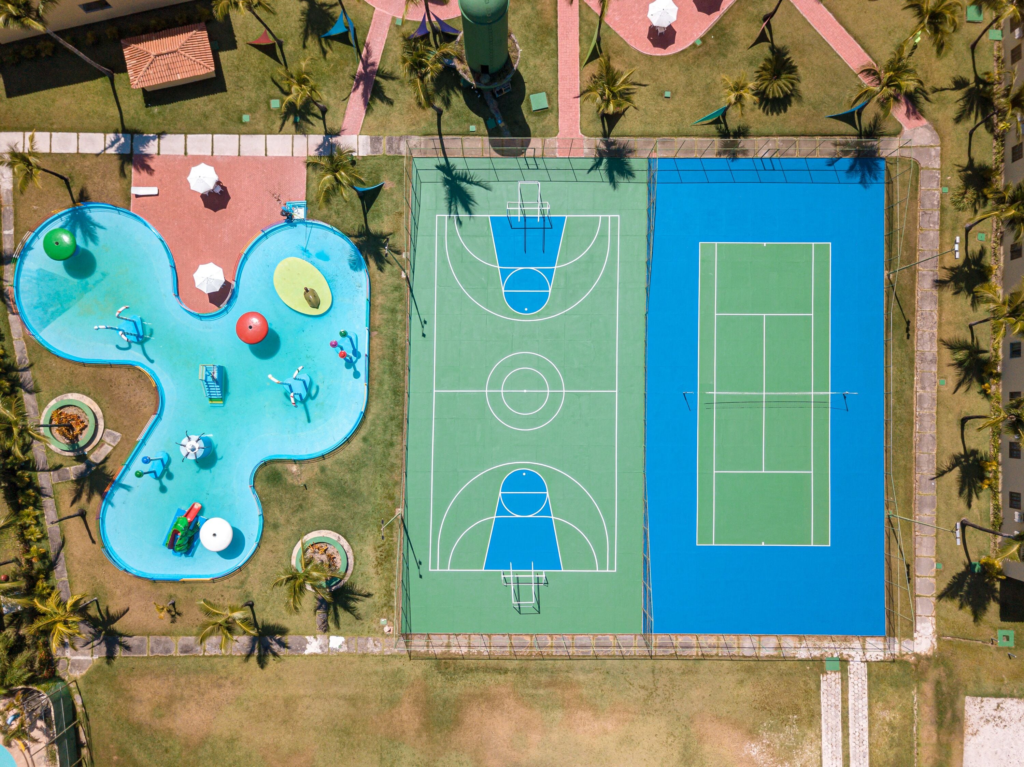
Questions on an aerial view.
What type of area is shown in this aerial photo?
sports ground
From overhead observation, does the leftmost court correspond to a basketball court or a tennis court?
basketball court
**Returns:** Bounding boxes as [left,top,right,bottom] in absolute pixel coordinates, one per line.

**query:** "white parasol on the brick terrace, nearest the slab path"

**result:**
[188,164,219,195]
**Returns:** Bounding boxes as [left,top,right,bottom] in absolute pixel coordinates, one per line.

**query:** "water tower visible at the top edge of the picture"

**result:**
[456,0,519,93]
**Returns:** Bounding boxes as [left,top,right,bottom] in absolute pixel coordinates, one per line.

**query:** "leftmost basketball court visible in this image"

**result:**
[398,155,647,634]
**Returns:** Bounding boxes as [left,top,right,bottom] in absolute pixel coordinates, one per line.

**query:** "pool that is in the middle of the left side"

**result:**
[14,202,371,581]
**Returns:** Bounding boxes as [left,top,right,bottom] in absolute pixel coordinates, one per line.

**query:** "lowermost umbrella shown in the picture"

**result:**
[195,263,228,295]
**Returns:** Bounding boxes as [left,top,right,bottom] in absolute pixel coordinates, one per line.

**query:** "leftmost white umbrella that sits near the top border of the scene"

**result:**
[646,0,677,31]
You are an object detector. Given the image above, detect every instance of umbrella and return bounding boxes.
[188,164,219,195]
[646,0,677,31]
[195,263,228,295]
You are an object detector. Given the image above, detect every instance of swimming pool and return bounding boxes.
[0,747,16,767]
[14,202,371,581]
